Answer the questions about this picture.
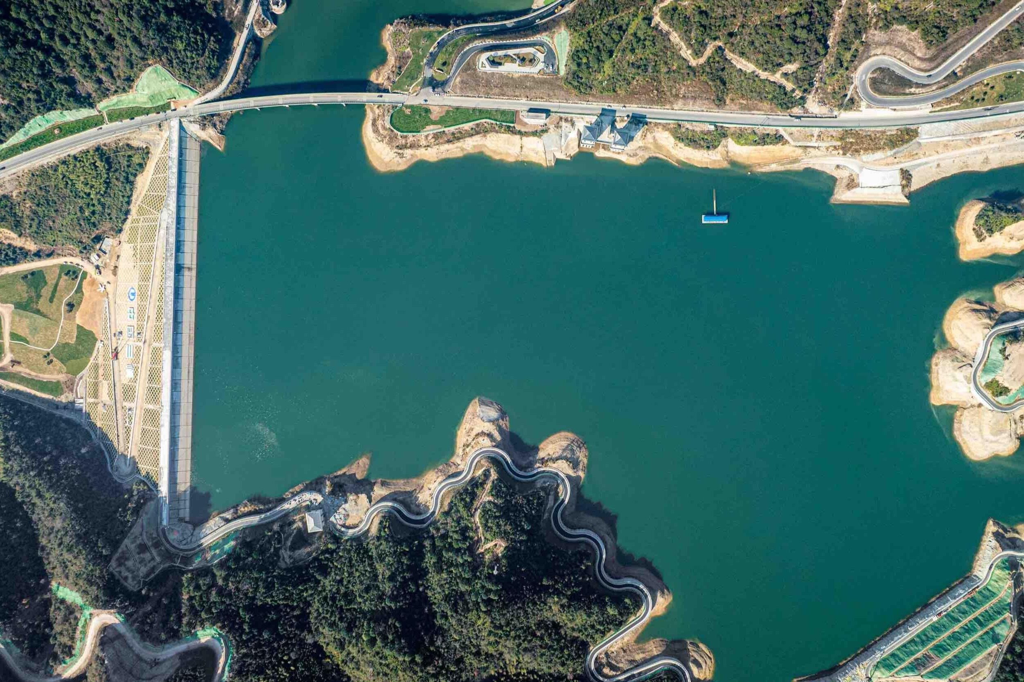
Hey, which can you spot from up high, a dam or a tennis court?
dam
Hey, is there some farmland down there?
No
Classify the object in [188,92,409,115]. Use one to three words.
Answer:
bridge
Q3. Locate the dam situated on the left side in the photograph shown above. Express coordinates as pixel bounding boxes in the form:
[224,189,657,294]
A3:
[75,120,202,523]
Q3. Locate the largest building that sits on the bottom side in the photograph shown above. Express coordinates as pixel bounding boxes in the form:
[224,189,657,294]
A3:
[306,509,324,532]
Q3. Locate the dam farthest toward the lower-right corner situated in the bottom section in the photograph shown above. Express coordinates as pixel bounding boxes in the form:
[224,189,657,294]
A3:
[796,551,1024,682]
